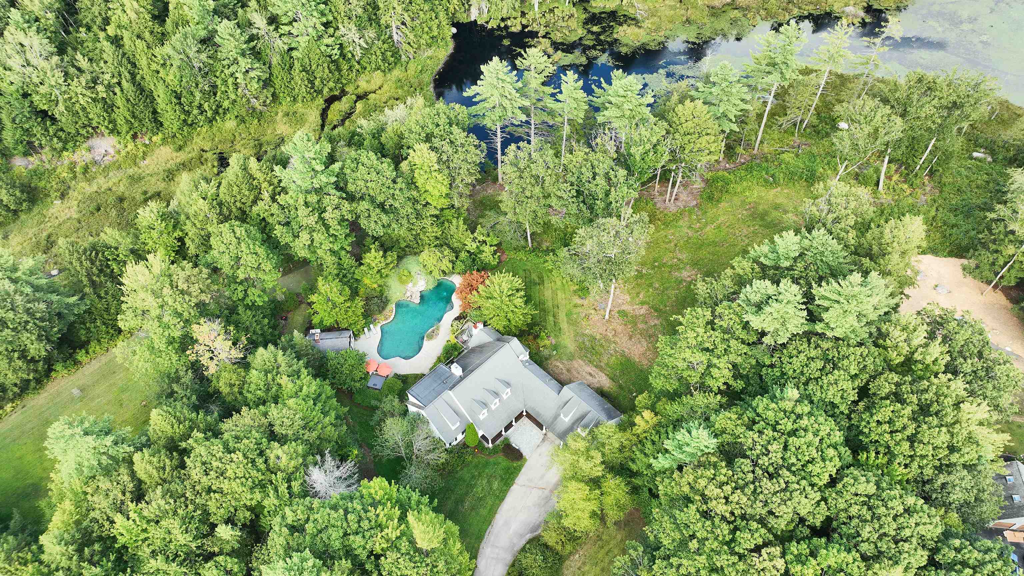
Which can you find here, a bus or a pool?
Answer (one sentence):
Of the two, only a pool appears.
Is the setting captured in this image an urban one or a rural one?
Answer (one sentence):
The land in this view is best described as rural.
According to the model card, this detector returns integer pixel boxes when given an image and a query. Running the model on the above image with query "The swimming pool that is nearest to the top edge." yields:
[376,277,457,361]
